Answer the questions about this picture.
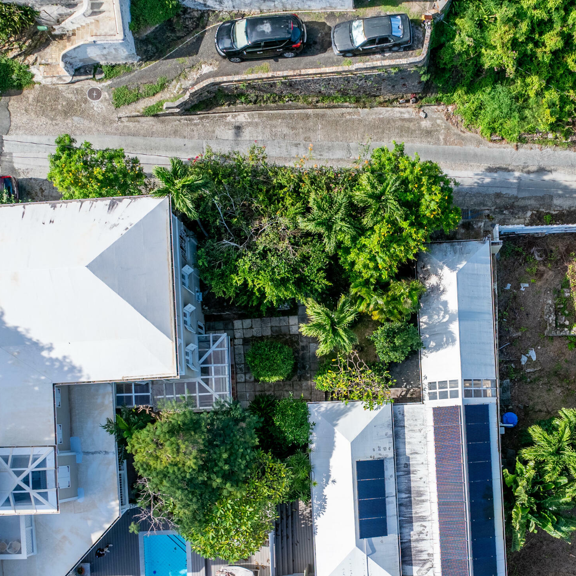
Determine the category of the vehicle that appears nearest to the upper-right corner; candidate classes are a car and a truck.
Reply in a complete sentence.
Specifically, the vehicle that appears nearest to the upper-right corner is a car.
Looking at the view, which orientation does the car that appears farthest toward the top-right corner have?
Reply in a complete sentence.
I'd say the car that appears farthest toward the top-right corner is aligned from side to side in the picture.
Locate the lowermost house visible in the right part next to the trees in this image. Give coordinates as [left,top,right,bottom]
[279,240,509,576]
